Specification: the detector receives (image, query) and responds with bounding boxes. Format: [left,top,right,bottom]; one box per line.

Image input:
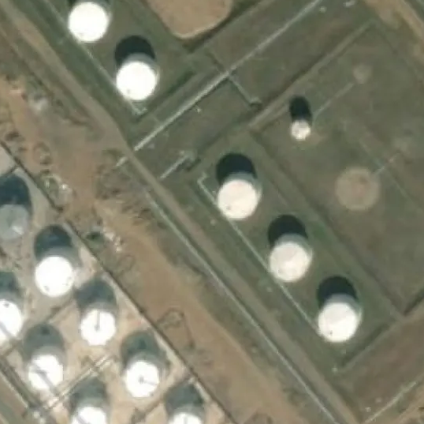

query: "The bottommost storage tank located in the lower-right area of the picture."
[319,293,364,344]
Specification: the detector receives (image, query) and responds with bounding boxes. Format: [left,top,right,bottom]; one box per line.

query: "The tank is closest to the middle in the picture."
[218,171,264,221]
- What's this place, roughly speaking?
industrial area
